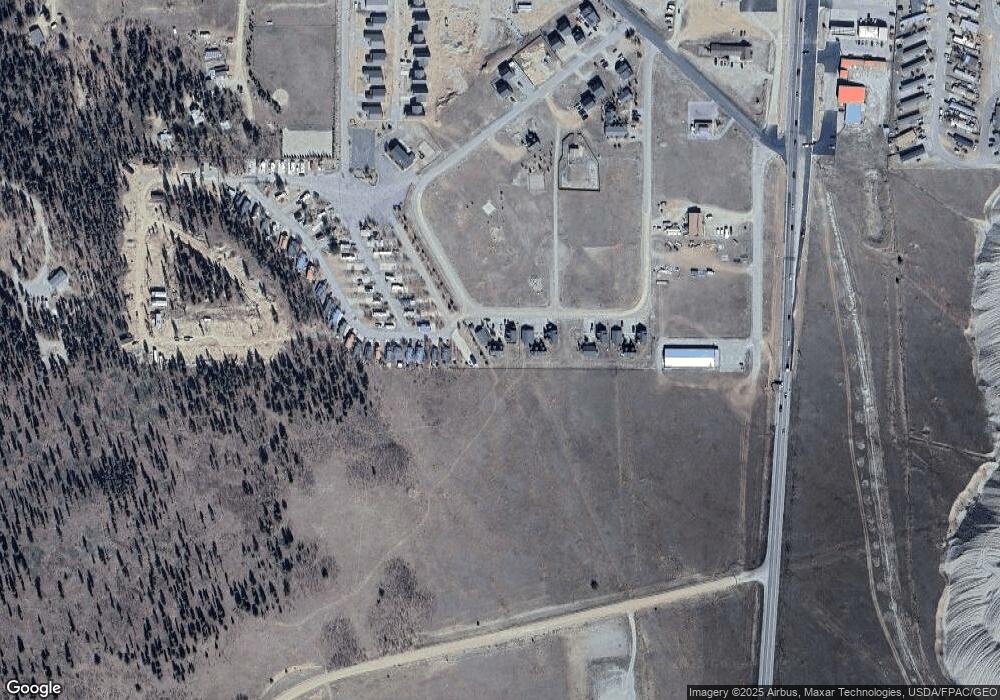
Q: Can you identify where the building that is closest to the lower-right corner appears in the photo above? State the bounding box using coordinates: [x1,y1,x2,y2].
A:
[665,348,720,368]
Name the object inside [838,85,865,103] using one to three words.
building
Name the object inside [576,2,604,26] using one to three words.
house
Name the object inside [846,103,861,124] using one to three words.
building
